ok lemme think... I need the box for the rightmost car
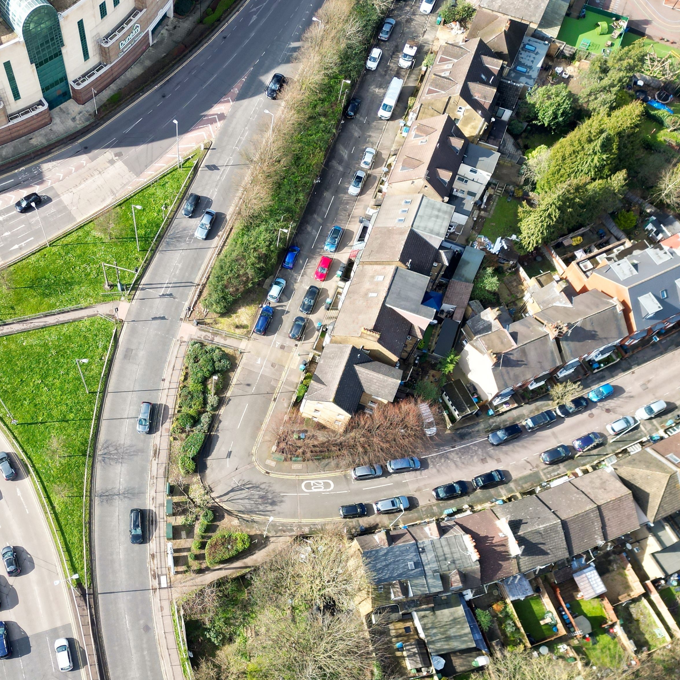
[633,400,670,422]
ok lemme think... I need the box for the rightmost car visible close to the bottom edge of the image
[54,637,75,674]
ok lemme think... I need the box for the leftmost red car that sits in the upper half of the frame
[314,255,333,283]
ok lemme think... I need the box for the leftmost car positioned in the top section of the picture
[15,191,43,214]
